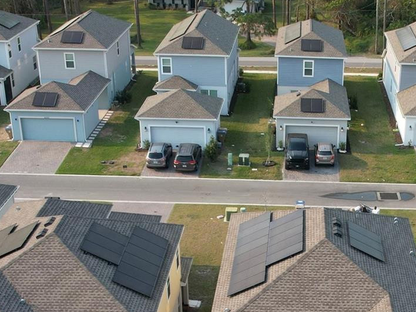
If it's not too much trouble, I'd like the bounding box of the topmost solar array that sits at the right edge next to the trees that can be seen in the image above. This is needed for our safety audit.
[396,25,416,49]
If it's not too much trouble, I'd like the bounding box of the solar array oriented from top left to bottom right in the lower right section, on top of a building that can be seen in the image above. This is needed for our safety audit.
[349,218,387,259]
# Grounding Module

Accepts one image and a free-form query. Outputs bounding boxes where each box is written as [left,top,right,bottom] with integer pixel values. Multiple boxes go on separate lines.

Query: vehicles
[174,141,202,168]
[145,138,174,167]
[283,135,311,169]
[311,138,337,164]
